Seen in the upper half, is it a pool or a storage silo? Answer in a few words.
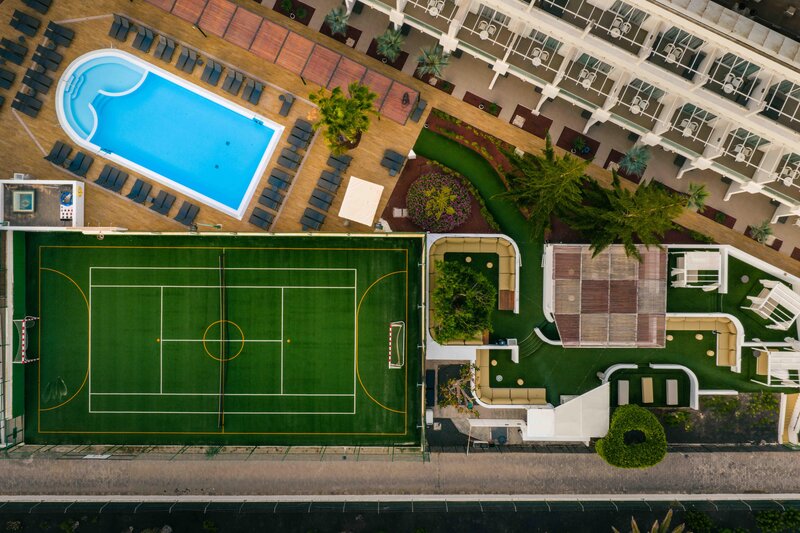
pool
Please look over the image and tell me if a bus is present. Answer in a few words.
No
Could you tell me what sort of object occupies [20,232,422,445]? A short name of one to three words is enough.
sports court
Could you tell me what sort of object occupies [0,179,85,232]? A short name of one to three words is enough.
building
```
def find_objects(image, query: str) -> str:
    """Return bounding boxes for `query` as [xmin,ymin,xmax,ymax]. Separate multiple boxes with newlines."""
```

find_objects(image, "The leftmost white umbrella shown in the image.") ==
[338,176,384,227]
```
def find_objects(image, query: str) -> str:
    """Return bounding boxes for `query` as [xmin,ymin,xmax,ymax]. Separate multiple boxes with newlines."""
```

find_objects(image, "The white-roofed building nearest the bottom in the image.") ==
[517,381,609,448]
